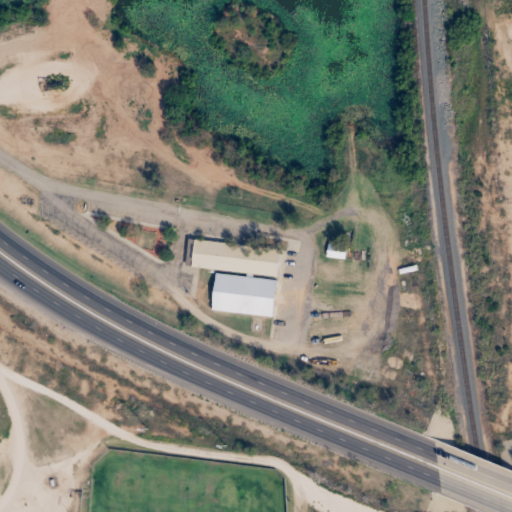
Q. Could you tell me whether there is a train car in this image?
No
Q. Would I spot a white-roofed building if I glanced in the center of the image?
Yes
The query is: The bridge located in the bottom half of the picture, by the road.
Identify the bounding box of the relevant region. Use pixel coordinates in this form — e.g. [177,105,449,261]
[420,440,512,512]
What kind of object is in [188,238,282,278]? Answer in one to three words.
building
